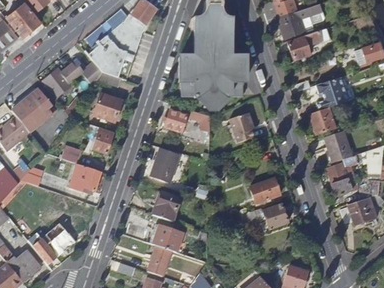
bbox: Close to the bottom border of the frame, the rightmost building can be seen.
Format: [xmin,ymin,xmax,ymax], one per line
[282,264,310,288]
